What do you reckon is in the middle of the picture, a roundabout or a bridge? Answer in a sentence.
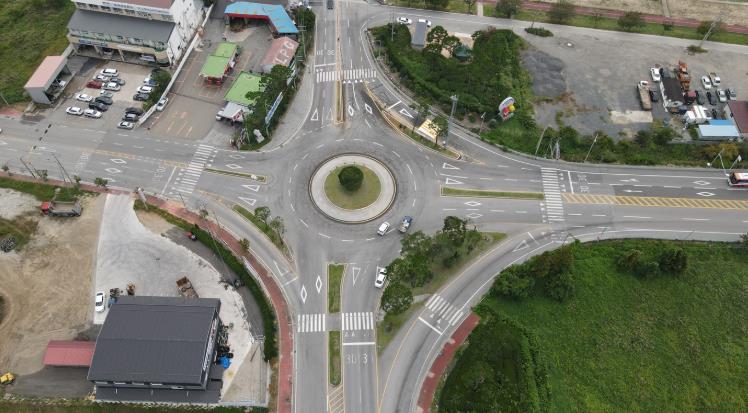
The feature located in the middle of the picture is a roundabout.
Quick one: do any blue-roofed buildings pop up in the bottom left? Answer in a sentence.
No, there's no blue-roofed building to be seen in the bottom left.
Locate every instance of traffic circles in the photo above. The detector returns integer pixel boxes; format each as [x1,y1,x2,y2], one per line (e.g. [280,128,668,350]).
[278,131,427,254]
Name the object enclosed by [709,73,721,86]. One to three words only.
vehicle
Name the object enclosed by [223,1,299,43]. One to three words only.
building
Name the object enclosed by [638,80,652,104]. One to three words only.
vehicle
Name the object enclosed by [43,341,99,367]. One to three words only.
shed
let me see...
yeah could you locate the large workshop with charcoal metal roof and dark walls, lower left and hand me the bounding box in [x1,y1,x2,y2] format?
[89,298,227,409]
